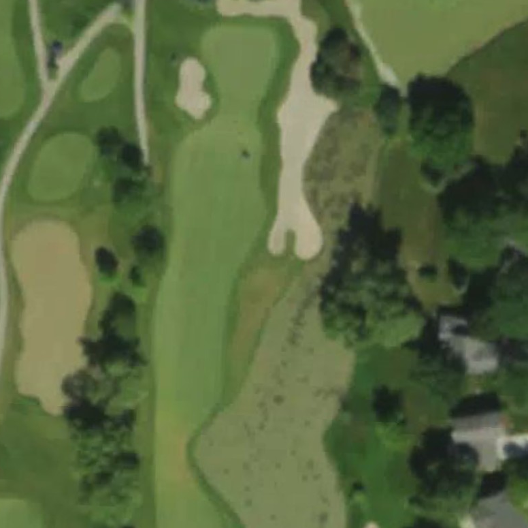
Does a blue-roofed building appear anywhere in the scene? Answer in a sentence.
No, no blue-roofed building is visible in the scene.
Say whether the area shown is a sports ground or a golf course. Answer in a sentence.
This image shows a golf course.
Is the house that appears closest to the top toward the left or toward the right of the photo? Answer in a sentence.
The house that appears closest to the top is on the right side of the image.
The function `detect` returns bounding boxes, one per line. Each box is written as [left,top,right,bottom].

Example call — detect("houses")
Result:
[451,412,506,471]
[441,311,501,374]
[462,488,528,528]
